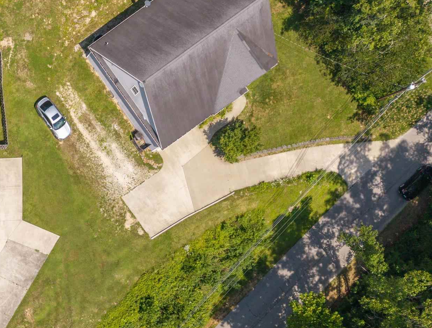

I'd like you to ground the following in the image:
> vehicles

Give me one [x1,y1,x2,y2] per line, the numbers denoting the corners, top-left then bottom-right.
[35,97,70,144]
[396,159,432,202]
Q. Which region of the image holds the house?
top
